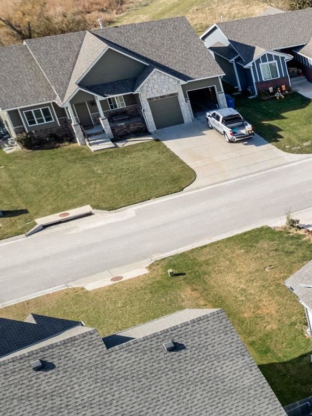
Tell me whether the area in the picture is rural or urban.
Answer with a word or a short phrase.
urban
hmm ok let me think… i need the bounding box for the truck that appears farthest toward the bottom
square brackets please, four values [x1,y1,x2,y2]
[205,110,250,138]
